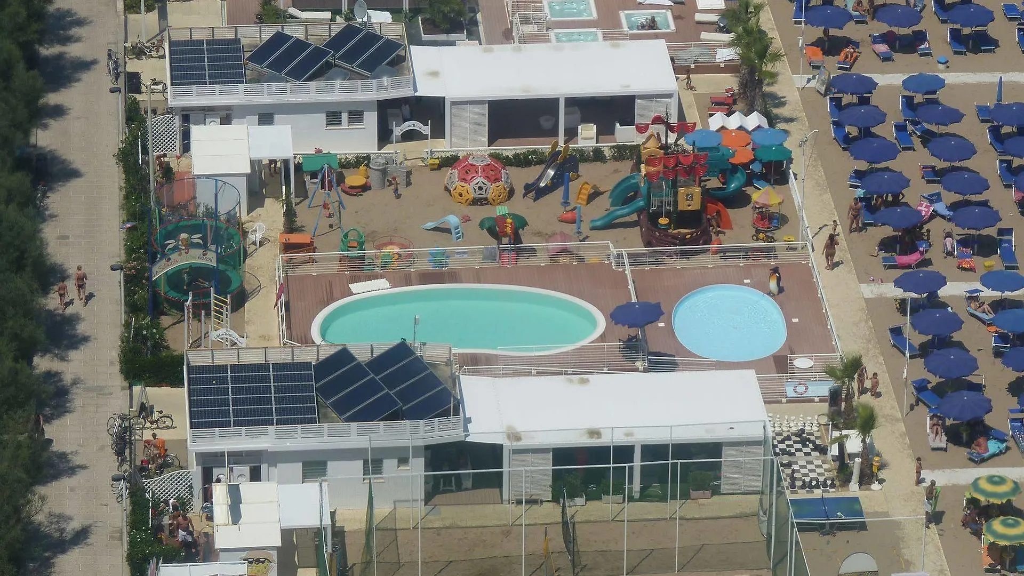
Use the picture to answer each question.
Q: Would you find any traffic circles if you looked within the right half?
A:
No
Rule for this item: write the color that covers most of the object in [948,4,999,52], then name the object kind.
blue umbrella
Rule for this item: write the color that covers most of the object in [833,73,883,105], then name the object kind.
blue umbrella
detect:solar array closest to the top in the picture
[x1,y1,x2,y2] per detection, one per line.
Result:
[172,33,246,88]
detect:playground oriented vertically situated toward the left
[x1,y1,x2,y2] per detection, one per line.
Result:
[242,178,284,351]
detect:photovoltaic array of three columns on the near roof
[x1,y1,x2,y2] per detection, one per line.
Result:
[189,353,318,433]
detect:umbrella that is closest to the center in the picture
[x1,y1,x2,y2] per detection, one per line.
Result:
[610,299,667,365]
